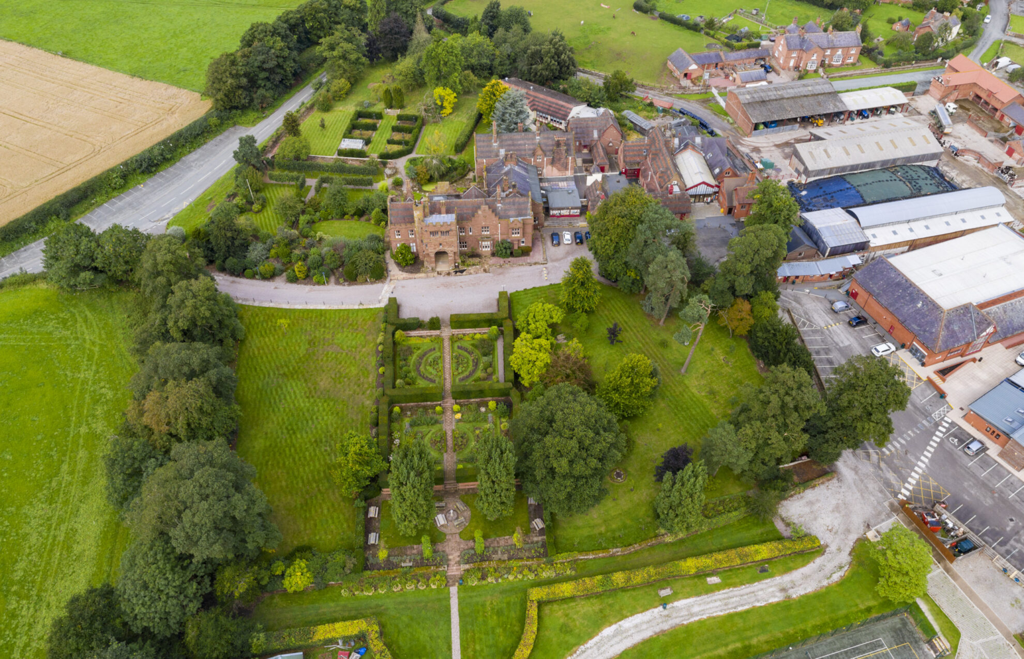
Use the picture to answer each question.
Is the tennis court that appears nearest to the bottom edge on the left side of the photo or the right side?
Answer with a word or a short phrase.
right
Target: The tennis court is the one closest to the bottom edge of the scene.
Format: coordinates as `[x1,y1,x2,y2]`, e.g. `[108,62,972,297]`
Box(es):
[765,615,931,659]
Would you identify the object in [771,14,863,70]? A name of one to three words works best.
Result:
house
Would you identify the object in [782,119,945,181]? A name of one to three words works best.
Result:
building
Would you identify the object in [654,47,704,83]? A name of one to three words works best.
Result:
shed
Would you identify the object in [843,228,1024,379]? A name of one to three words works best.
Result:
building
